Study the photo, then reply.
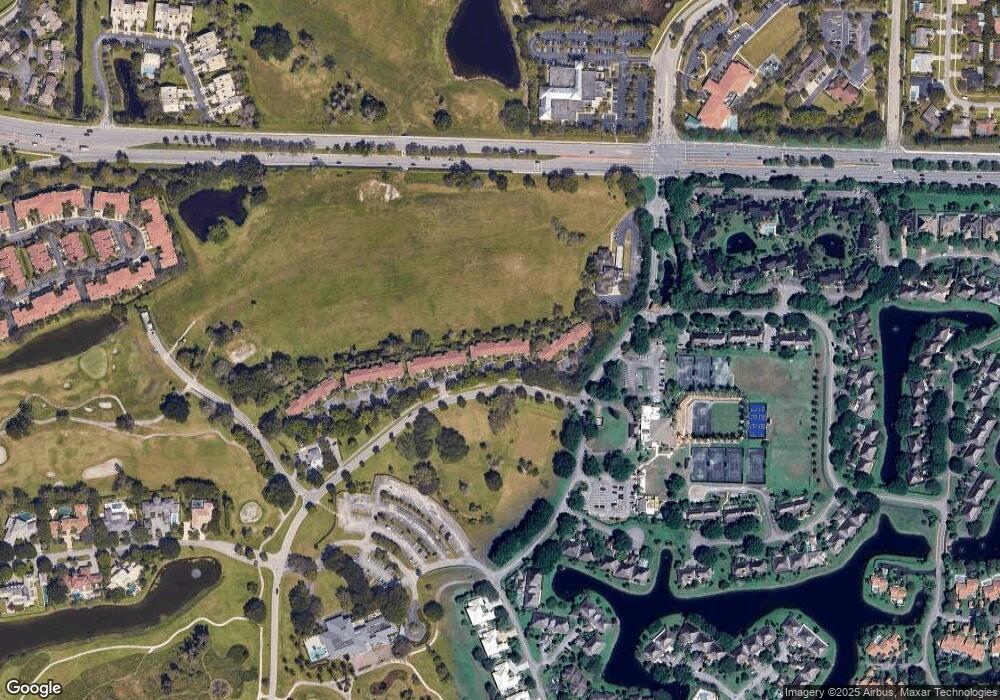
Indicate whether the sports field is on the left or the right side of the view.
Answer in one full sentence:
You can find the sports field on the right side of the picture.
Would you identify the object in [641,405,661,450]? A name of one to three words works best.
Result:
building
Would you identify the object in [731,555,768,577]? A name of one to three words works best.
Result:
house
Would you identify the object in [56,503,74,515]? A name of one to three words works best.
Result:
swimming pool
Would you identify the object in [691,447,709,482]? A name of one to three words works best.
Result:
tennis court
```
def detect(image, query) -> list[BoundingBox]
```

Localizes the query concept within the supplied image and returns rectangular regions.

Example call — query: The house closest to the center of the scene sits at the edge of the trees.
[470,340,531,359]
